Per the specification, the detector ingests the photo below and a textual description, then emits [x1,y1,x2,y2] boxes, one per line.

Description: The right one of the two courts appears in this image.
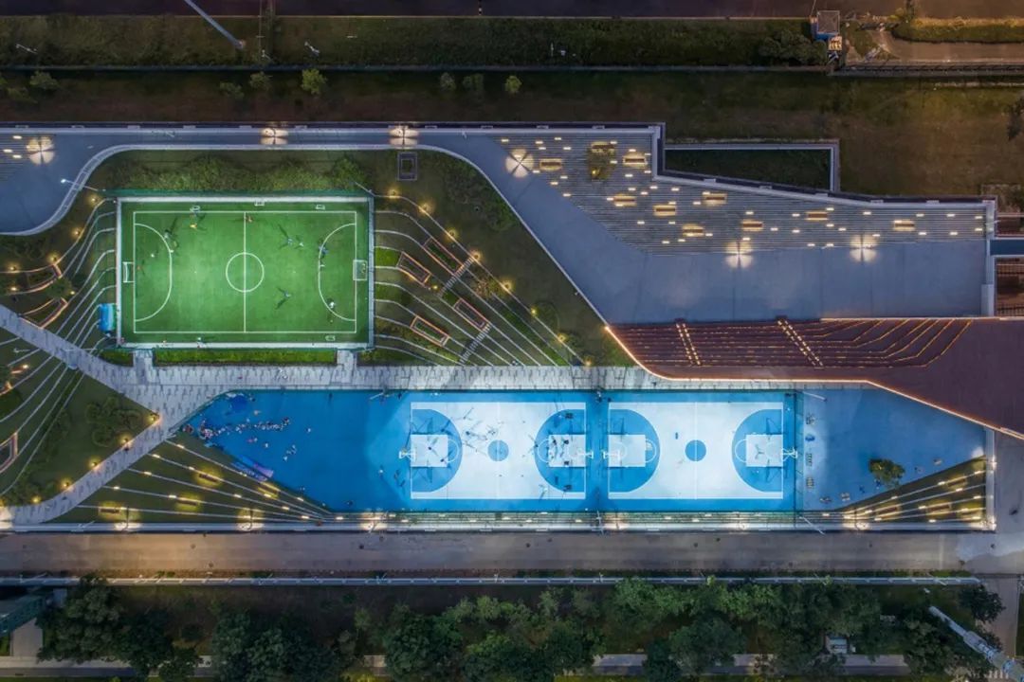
[608,402,784,499]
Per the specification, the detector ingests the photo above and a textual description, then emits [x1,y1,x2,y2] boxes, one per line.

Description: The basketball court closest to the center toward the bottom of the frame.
[410,402,586,499]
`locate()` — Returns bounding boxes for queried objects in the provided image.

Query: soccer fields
[115,197,375,348]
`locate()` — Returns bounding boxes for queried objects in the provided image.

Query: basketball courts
[410,402,586,499]
[608,402,784,499]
